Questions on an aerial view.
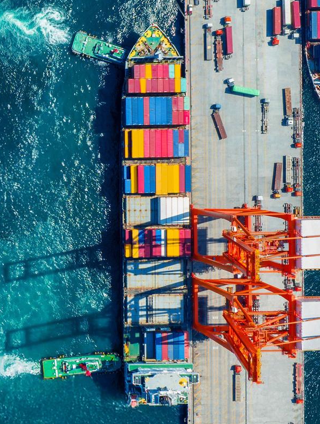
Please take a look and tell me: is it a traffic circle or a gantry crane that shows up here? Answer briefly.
gantry crane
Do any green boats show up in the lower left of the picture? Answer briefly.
Yes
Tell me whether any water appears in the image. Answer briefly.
Yes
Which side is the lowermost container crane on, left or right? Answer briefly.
right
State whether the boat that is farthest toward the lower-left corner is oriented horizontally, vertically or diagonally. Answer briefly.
horizontally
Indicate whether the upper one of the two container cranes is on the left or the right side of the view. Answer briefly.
right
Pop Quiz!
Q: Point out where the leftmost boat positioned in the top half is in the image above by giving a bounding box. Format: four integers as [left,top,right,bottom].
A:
[71,31,125,65]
